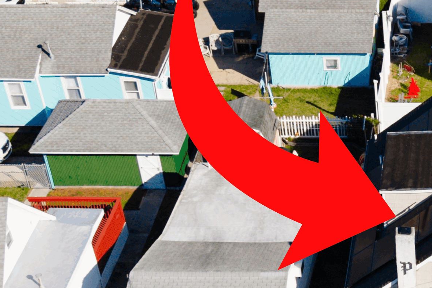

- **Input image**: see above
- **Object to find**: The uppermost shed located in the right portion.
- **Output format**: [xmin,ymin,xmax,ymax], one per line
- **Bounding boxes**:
[258,0,379,84]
